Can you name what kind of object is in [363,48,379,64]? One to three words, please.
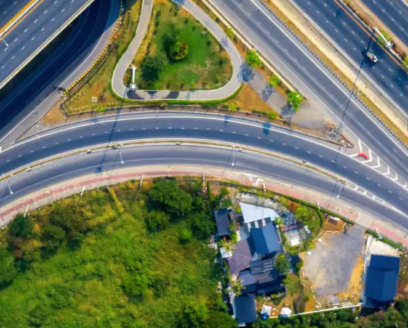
vehicle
